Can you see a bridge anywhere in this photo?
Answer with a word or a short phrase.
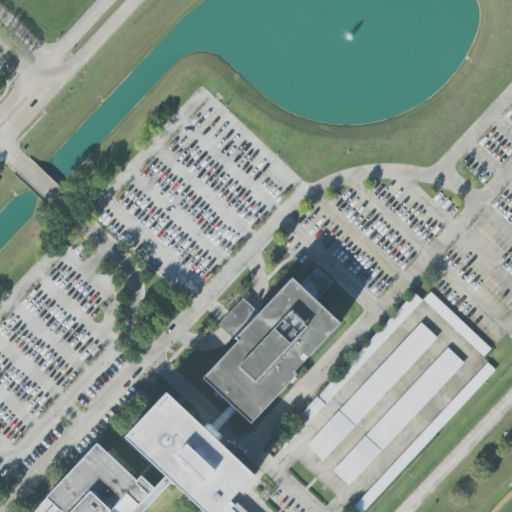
Yes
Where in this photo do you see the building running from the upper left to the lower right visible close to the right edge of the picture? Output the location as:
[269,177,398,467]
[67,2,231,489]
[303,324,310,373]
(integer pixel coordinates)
[424,292,492,356]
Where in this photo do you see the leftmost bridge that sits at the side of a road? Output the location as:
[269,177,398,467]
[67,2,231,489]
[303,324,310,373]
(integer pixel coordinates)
[4,150,60,202]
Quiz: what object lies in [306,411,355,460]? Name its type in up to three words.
building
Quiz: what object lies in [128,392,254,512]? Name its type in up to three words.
building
